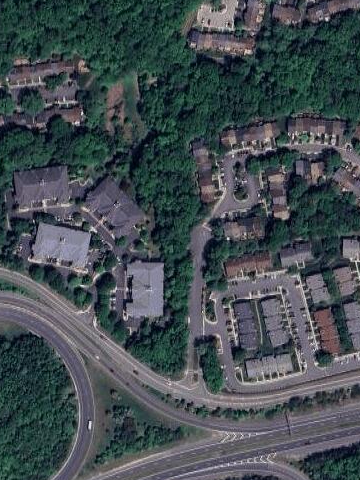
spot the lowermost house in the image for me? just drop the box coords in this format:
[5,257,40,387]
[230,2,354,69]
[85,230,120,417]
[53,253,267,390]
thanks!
[244,350,294,380]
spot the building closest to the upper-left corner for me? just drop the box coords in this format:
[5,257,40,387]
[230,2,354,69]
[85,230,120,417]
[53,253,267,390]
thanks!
[8,60,76,83]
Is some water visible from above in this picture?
No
